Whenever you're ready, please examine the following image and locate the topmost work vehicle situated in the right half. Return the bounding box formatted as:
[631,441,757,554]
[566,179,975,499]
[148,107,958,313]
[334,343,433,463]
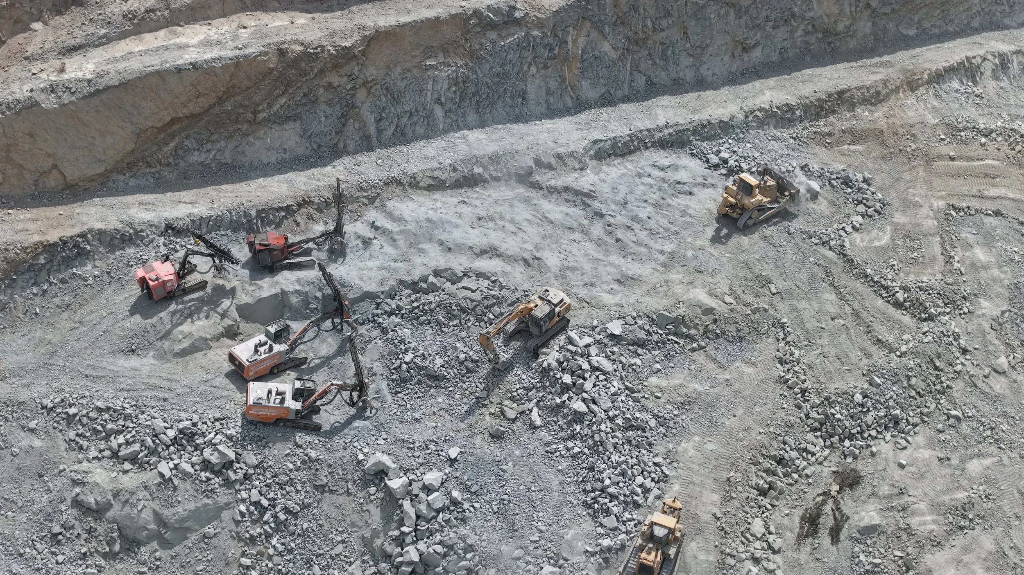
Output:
[717,165,802,231]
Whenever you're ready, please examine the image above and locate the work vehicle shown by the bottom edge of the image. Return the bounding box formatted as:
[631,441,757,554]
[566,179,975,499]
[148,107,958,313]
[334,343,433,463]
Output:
[626,499,687,575]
